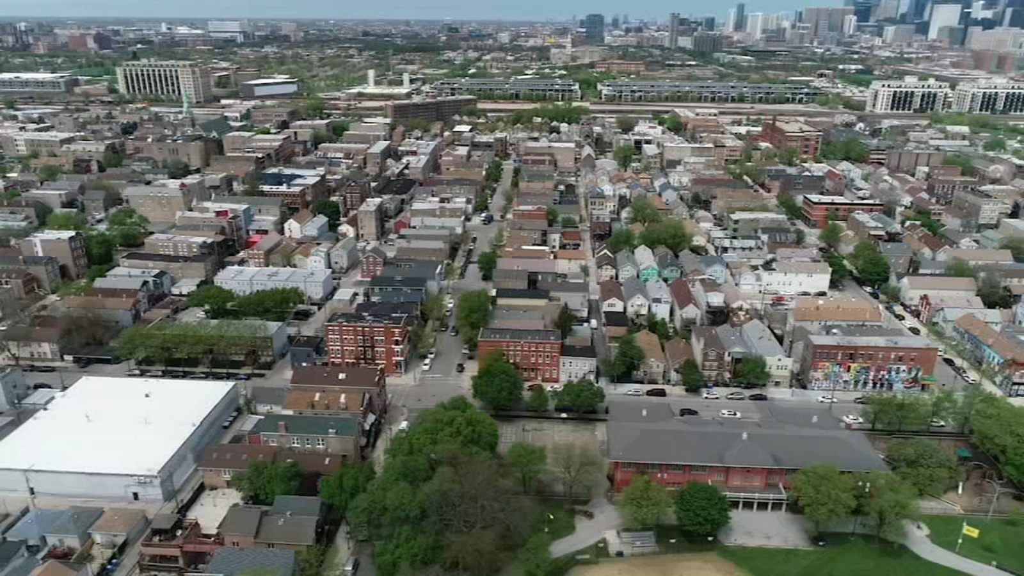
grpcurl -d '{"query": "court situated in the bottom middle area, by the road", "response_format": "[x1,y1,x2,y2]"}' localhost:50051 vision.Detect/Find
[494,422,607,500]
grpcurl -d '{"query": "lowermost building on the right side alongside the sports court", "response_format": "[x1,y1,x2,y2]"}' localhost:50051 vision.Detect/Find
[605,398,884,517]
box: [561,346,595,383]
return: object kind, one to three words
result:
building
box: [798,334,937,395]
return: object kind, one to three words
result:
building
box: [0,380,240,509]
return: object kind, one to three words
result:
warehouse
